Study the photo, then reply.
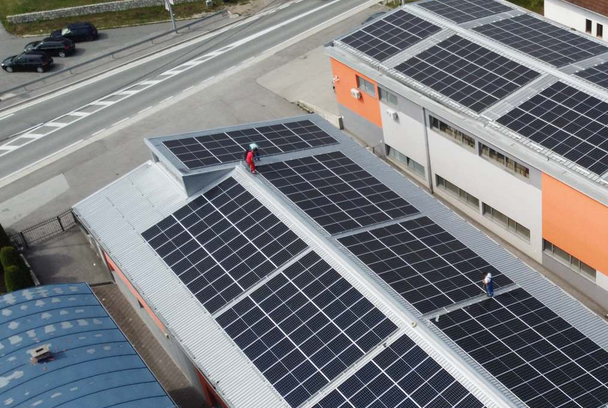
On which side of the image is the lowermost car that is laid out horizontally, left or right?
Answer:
left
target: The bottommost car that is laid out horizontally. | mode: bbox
[1,52,53,73]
